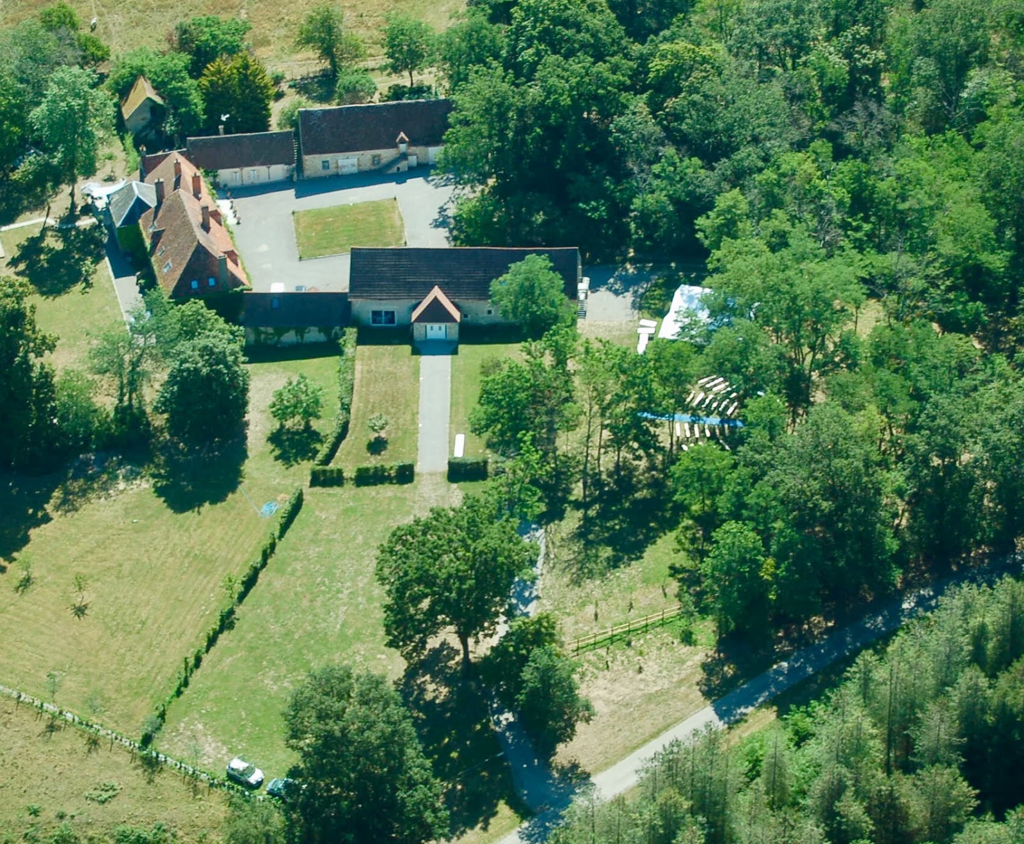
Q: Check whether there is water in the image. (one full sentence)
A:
No, water can't be seen anywhere here.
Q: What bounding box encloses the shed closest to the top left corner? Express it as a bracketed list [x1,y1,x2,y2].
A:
[111,80,164,135]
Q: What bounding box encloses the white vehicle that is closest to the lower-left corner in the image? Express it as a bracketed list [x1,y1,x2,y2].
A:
[228,759,262,786]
